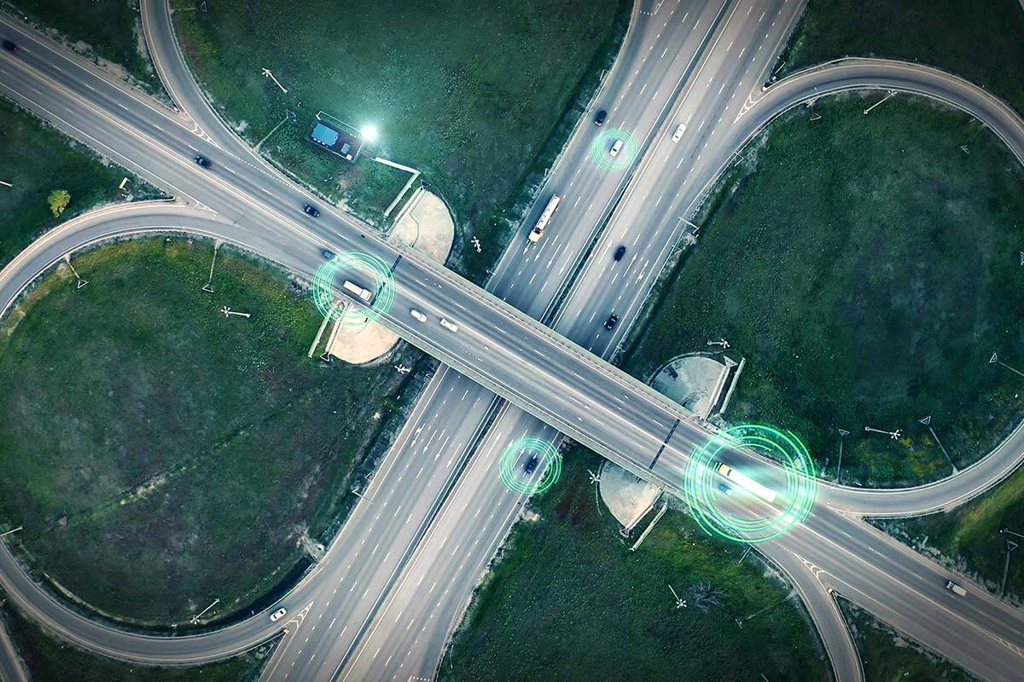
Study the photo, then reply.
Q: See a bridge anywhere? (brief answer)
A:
Yes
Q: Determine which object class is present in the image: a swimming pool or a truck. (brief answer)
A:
truck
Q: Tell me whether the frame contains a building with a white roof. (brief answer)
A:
No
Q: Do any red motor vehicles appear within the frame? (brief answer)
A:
No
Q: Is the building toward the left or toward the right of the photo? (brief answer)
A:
left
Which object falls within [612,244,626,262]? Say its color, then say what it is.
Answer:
black car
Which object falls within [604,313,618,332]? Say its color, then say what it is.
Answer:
black car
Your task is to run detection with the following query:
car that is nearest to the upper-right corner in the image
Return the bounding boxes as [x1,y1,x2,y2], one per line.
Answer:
[671,123,685,142]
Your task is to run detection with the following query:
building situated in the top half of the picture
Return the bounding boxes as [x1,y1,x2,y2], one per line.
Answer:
[310,120,339,145]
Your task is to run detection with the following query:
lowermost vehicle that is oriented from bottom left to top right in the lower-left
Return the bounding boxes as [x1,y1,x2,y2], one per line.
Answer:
[269,606,288,622]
